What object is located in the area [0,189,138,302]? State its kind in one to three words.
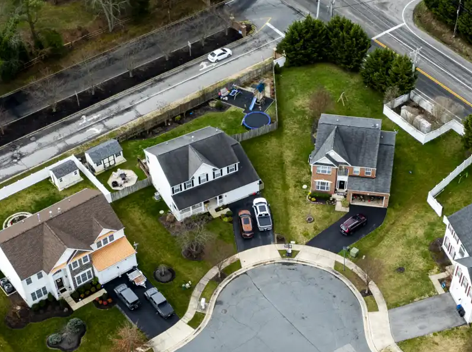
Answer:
house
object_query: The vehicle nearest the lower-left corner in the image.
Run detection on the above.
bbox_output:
[113,283,140,310]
